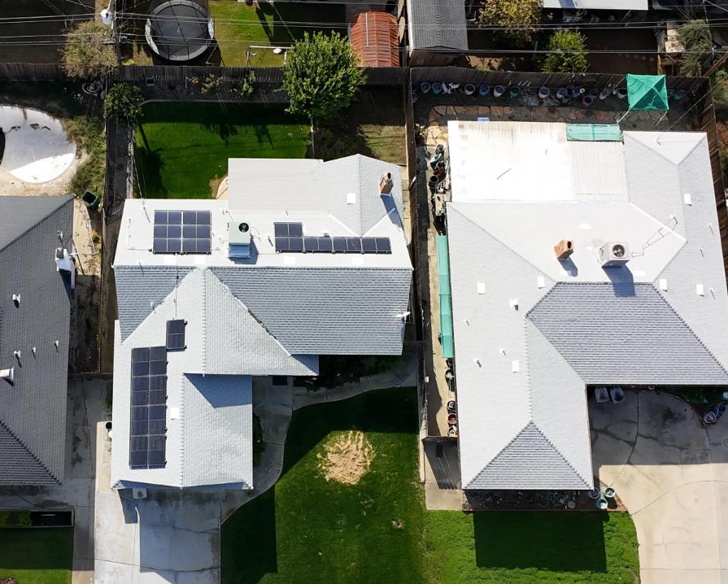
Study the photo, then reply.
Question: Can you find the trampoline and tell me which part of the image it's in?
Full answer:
The trampoline sits in the top left section of the image.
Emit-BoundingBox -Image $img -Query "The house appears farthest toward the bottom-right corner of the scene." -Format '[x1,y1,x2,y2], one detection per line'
[438,120,728,491]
